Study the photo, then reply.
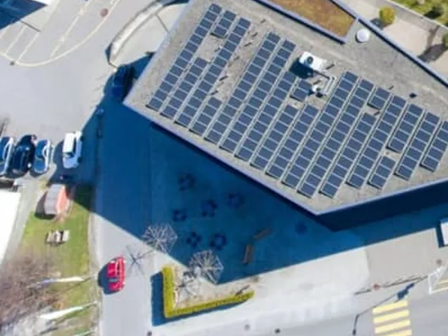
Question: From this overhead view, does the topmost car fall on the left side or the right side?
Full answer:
The topmost car appears in the left half of the scene.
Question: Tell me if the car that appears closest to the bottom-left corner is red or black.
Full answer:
The color of the car that appears closest to the bottom-left corner is red.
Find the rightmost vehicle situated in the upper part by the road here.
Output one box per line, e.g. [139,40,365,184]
[113,63,136,100]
